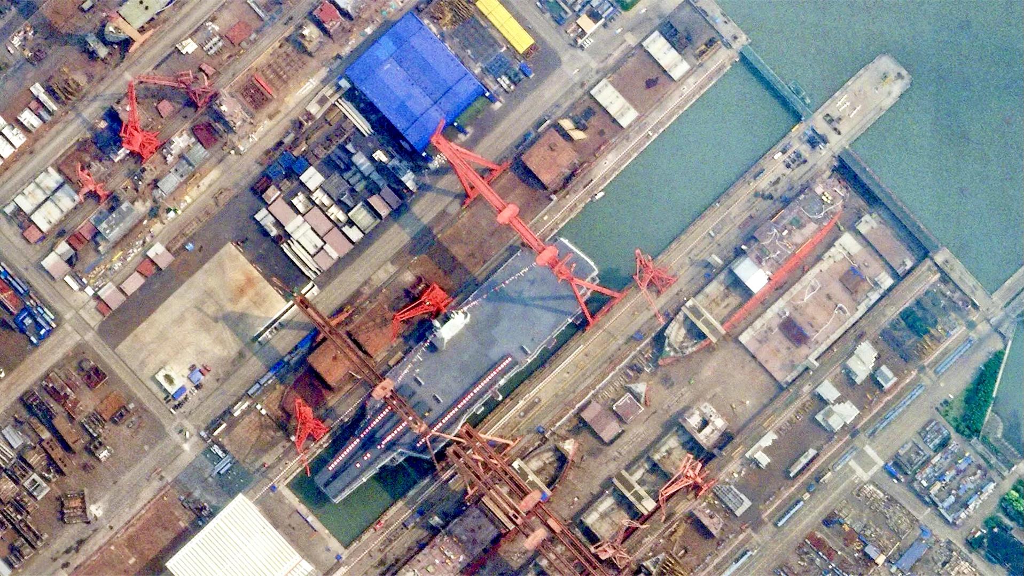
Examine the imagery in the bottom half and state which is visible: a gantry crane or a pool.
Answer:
gantry crane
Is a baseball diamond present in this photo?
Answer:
No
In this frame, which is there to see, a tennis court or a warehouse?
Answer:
warehouse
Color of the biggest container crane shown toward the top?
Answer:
red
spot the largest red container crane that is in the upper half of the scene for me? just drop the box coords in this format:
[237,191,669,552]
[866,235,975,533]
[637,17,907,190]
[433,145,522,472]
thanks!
[430,120,630,333]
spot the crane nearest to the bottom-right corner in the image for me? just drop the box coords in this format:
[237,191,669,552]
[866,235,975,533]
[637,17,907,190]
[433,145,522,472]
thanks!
[658,455,716,529]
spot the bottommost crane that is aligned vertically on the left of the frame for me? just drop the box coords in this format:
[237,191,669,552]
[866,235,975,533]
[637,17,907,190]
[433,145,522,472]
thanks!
[296,399,330,484]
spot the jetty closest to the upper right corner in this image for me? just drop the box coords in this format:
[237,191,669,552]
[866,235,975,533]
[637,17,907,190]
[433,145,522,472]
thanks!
[801,54,911,157]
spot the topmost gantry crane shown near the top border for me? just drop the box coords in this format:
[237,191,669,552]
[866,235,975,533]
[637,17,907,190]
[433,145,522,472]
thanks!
[105,11,161,53]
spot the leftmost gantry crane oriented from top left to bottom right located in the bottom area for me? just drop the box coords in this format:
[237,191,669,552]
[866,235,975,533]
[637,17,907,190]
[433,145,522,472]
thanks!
[274,279,484,480]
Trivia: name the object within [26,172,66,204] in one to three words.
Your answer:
shed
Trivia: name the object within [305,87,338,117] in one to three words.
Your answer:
shed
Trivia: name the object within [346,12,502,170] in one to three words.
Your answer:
warehouse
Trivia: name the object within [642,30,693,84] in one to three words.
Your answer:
building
